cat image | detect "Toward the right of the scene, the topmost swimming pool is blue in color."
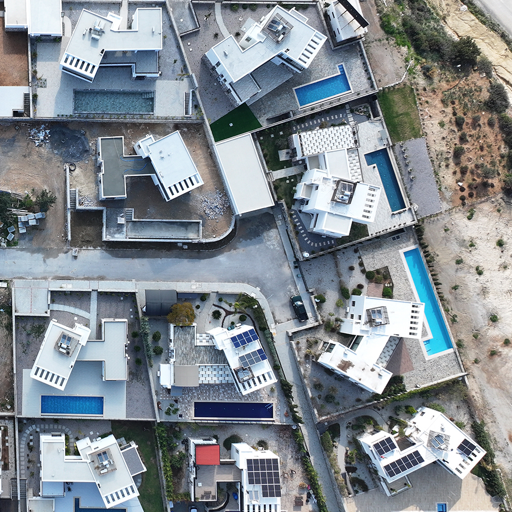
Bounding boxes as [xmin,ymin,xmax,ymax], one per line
[292,62,354,109]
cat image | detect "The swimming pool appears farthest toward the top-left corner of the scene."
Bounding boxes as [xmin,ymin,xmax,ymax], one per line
[73,88,156,115]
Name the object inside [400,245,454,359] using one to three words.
swimming pool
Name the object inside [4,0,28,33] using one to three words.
building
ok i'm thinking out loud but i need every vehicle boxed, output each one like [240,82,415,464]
[292,294,310,323]
[188,506,199,512]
